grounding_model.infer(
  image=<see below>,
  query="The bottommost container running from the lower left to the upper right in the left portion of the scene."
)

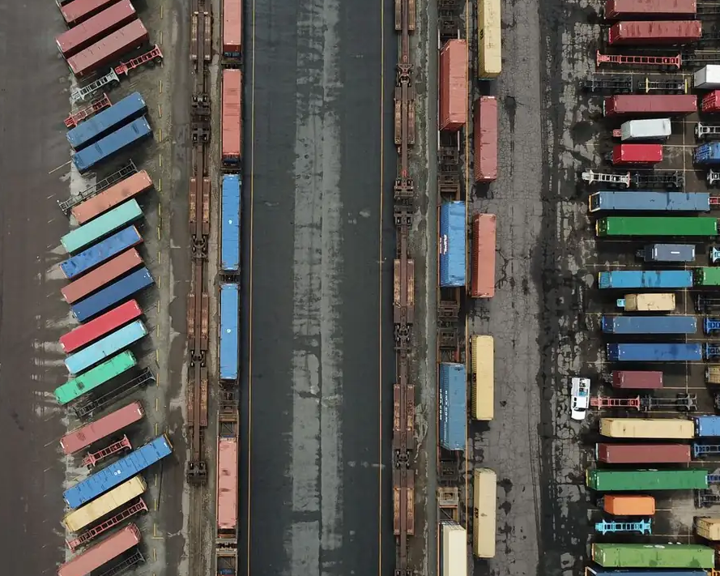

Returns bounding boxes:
[58,521,140,576]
